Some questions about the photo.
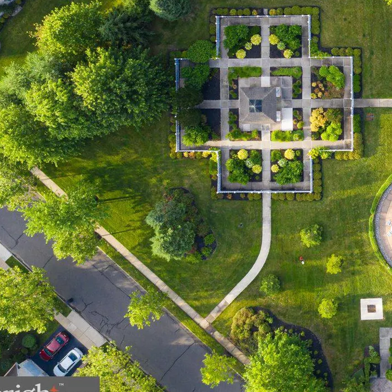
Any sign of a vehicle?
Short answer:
Yes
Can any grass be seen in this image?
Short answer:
Yes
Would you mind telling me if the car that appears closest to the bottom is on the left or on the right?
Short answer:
left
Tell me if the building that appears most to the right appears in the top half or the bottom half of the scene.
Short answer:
top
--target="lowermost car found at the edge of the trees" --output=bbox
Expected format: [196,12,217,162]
[53,347,84,378]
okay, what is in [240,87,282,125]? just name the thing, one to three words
building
